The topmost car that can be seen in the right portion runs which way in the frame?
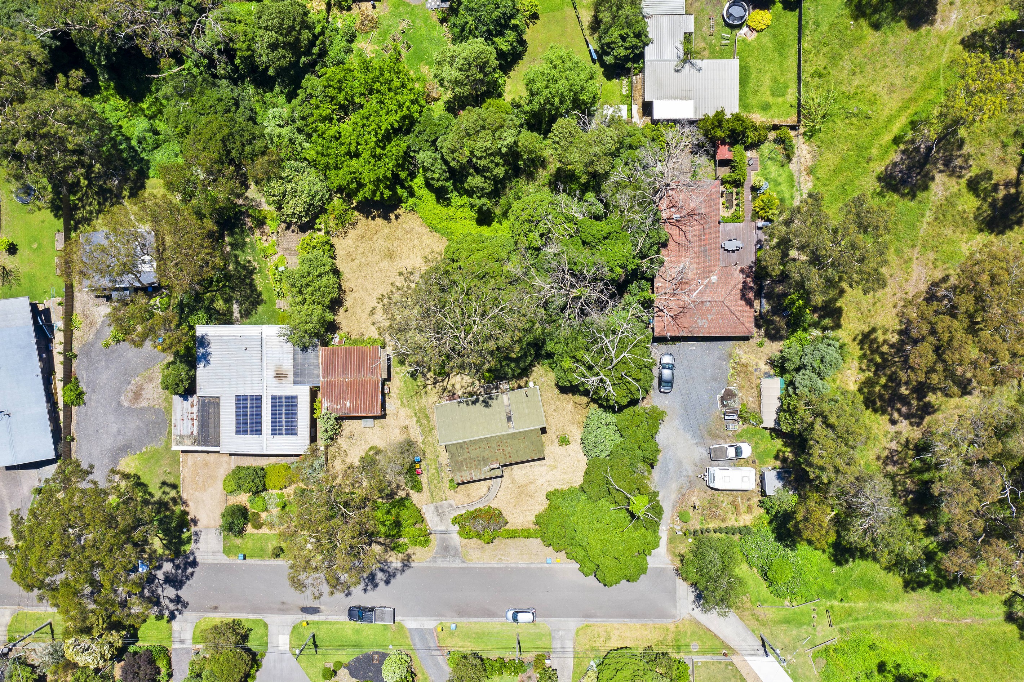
up and down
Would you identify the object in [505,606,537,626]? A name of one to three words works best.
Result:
car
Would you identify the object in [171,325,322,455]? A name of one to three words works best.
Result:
house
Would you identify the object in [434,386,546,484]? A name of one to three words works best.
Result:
house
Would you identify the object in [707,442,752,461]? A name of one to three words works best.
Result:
vehicle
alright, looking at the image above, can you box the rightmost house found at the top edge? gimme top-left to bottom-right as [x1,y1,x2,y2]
[642,0,739,125]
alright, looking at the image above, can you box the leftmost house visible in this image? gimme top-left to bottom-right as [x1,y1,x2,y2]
[0,296,69,465]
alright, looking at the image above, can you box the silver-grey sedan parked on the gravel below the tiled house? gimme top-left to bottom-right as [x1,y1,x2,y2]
[656,352,676,395]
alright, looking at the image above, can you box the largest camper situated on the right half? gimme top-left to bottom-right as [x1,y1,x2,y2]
[689,464,756,490]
